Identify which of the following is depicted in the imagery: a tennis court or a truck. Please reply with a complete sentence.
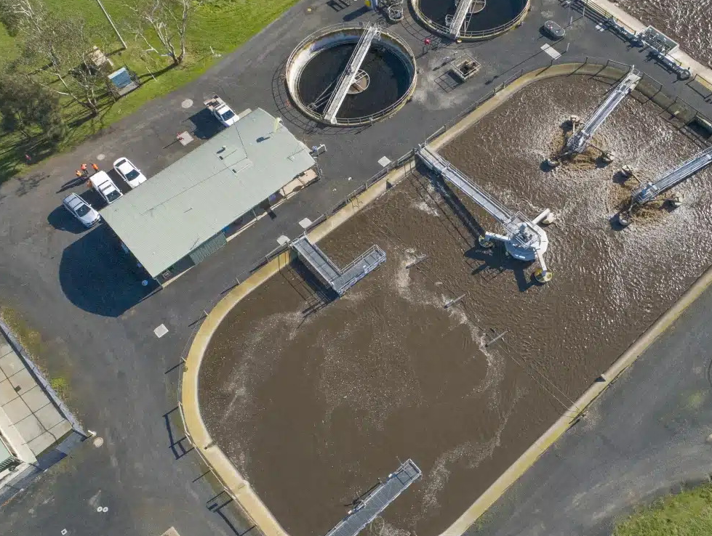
I can see a truck in this picture.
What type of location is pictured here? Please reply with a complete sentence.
This looks like an industrial area.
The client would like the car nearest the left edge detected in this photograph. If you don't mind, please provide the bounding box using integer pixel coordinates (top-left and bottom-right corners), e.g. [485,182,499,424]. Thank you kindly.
[61,193,100,229]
